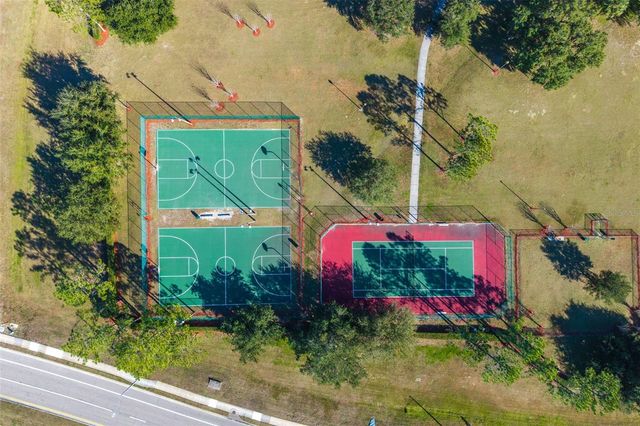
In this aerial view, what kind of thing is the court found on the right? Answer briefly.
tennis court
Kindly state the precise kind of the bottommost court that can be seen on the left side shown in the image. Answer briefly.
basketball court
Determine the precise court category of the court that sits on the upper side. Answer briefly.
basketball court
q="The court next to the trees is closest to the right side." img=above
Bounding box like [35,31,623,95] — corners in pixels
[321,222,505,314]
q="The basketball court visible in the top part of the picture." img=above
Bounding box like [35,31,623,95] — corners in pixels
[158,129,291,209]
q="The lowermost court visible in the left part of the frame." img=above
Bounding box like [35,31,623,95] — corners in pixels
[159,227,291,306]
